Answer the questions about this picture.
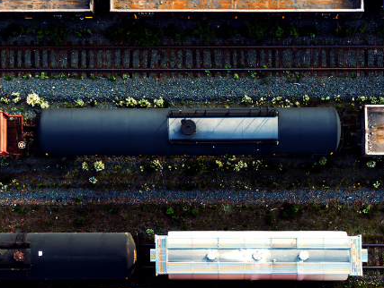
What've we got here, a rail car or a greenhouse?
rail car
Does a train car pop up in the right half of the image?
Yes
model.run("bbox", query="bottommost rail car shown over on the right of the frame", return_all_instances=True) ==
[144,231,373,280]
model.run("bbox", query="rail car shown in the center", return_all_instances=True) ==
[23,106,358,160]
